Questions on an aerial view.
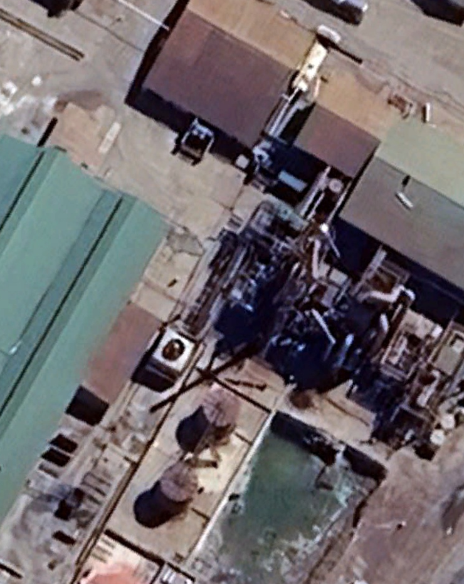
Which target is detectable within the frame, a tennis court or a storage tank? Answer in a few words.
storage tank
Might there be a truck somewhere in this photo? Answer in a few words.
Yes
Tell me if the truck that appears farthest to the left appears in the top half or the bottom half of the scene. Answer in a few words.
top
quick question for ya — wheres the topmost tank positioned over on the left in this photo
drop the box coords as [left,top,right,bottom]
[151,329,194,376]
